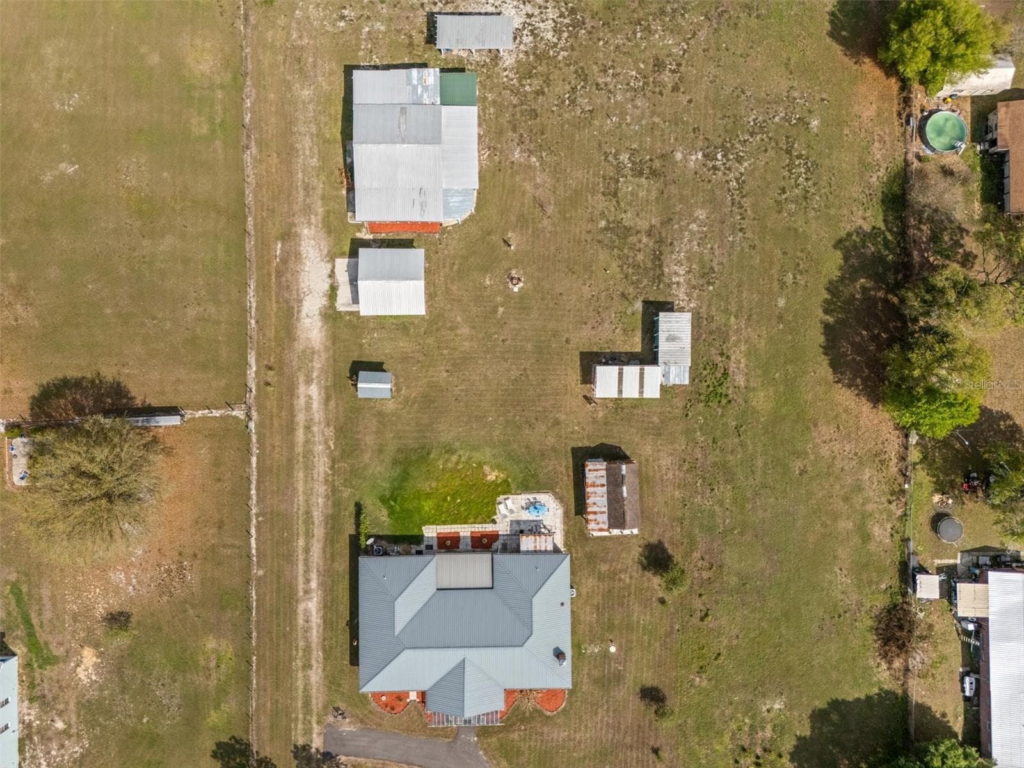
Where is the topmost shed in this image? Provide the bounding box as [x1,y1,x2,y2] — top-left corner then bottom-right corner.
[434,15,513,62]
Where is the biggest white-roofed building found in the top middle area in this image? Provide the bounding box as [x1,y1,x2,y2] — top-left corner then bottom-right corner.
[352,68,478,226]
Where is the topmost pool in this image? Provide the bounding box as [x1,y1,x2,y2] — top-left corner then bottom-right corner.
[918,111,968,157]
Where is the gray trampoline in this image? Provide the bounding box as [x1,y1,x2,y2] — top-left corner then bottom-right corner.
[930,516,962,543]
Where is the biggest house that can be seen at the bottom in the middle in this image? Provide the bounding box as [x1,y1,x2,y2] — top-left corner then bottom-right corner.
[357,549,572,722]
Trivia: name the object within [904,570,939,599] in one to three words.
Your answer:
shed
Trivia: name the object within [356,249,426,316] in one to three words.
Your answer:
building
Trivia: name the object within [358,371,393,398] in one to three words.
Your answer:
shed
